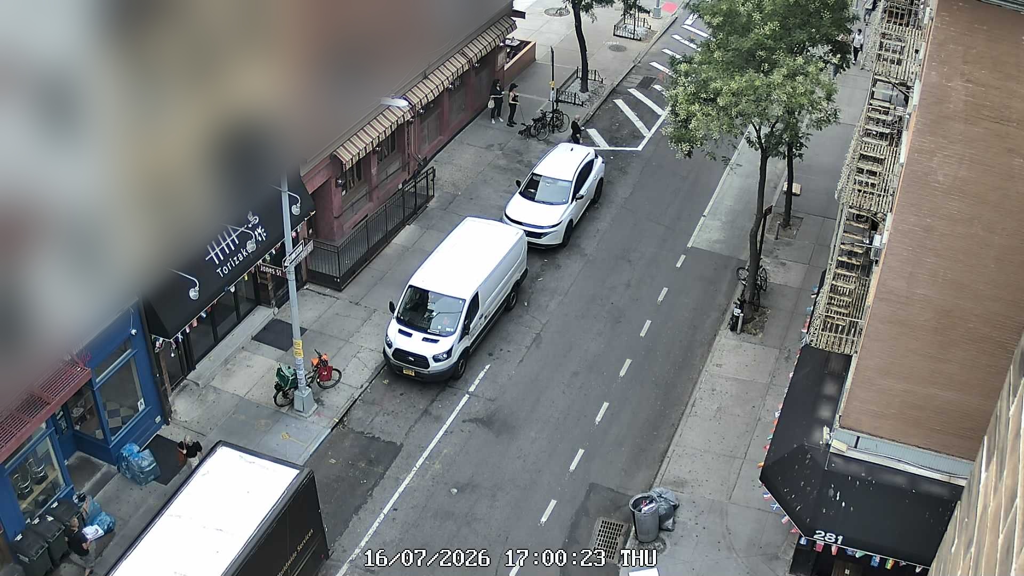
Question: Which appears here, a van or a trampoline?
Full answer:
This aerial view contains a van.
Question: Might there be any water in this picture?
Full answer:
No, the picture contains no water.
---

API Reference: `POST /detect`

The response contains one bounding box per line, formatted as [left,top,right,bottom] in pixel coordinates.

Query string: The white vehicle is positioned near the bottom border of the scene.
[90,438,333,576]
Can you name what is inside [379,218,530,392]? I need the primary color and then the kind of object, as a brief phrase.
white van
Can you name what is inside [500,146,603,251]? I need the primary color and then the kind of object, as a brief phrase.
white car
